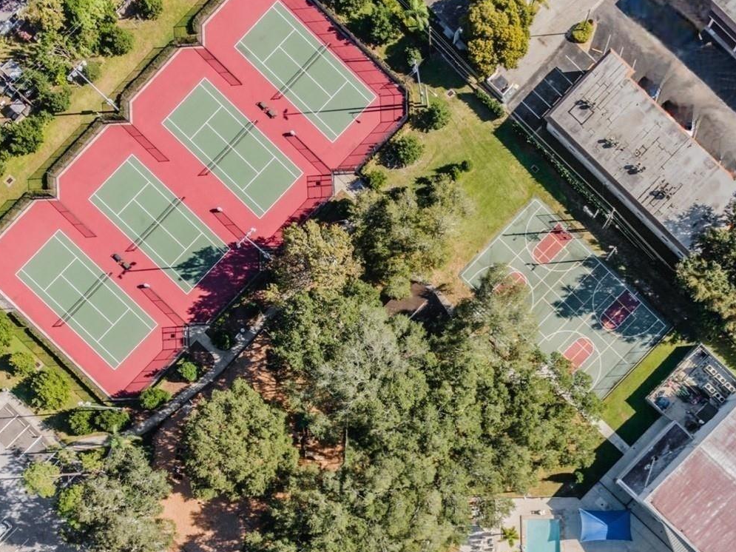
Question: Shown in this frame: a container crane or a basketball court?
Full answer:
This aerial view contains a basketball court.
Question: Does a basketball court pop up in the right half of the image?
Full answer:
Yes, a basketball court is visible in the right half of the image.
